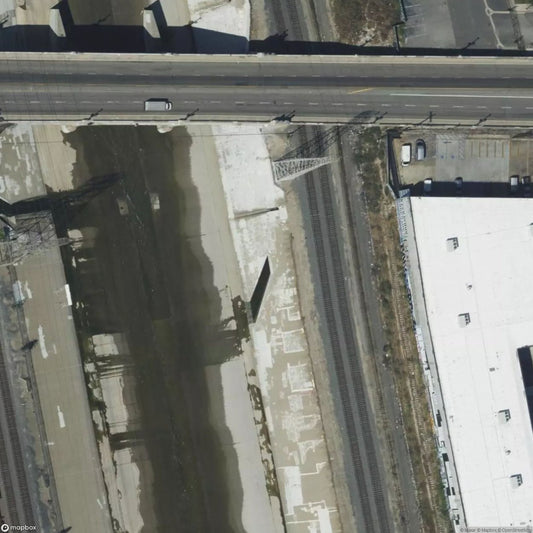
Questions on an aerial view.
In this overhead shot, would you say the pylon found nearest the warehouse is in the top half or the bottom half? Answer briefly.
top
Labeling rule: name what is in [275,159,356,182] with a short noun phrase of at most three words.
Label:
pylon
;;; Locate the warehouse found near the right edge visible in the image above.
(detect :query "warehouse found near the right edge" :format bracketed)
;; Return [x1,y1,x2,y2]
[395,196,533,533]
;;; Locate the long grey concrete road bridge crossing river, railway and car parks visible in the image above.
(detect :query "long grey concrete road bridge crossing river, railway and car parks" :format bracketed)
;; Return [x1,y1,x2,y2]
[0,7,533,135]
